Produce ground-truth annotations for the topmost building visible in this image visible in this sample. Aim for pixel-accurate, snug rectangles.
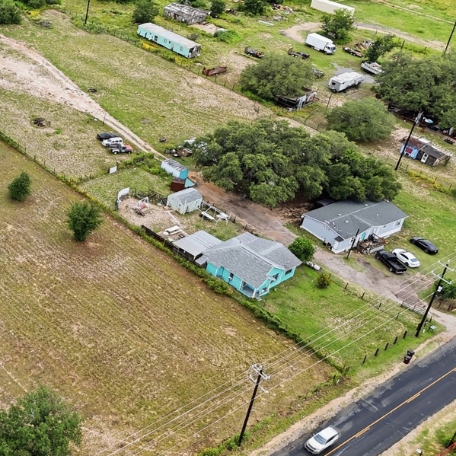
[157,0,211,29]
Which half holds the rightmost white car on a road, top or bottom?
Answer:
bottom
